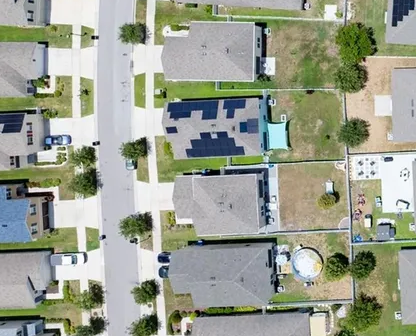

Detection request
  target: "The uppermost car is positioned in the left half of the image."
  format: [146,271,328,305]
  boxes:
[47,134,73,146]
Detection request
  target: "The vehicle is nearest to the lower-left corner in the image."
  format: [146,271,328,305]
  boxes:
[51,253,89,267]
